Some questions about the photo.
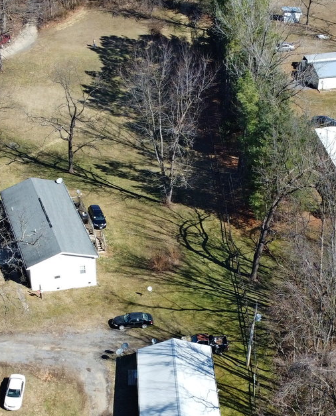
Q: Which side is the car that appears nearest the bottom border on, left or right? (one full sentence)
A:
The car that appears nearest the bottom border sits on the left side.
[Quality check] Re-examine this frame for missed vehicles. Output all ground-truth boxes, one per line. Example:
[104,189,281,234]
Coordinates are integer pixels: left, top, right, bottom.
[0,376,21,415]
[273,42,296,51]
[184,330,236,352]
[310,114,336,127]
[110,312,153,331]
[89,203,108,230]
